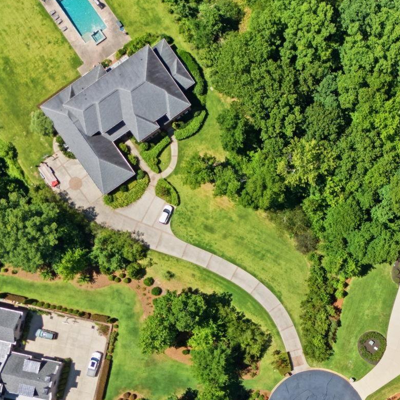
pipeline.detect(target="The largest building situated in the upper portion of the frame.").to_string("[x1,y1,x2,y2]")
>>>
[40,38,195,195]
